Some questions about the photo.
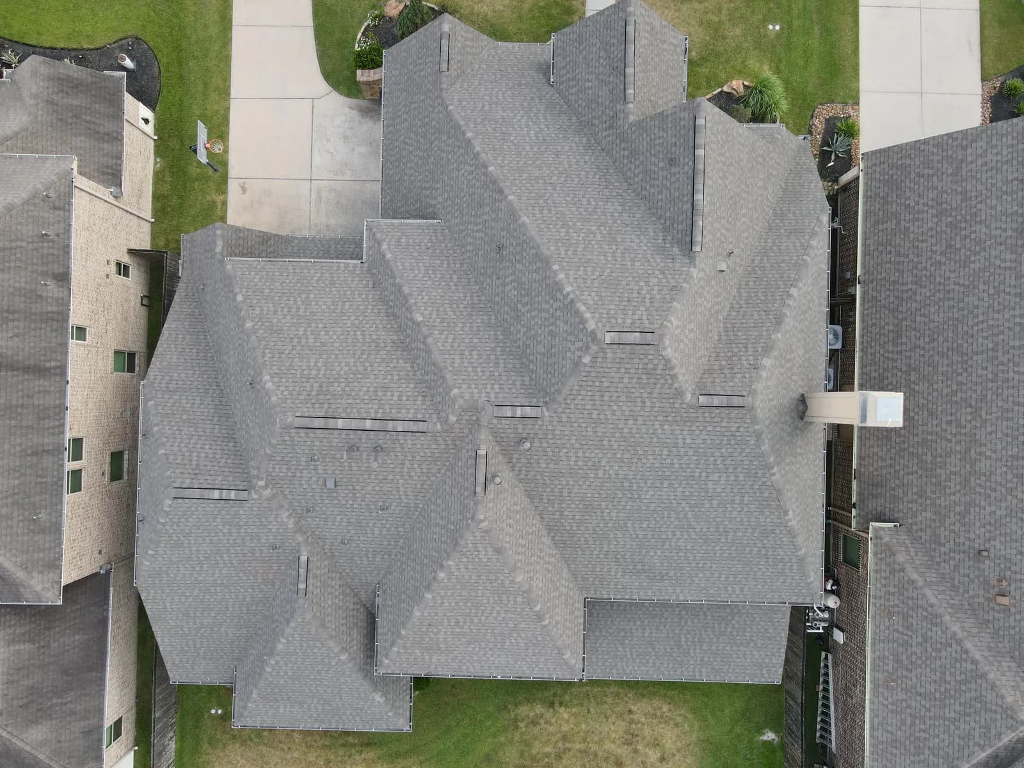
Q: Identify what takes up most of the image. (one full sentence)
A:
The bulk of the photo consists of buildings.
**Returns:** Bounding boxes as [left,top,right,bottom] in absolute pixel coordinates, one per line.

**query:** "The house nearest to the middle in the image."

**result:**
[134,0,902,731]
